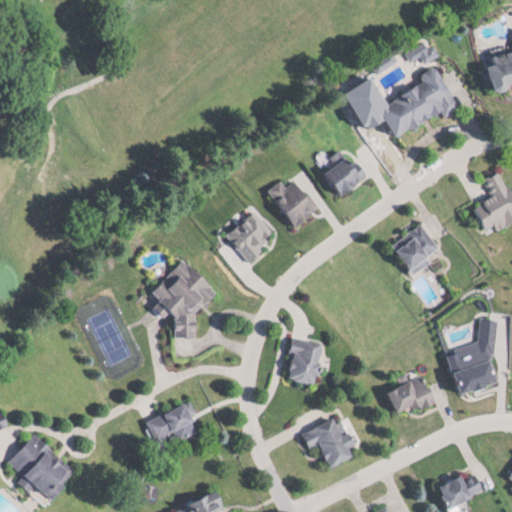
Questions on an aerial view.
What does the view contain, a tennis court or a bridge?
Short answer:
tennis court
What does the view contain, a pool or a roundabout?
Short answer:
pool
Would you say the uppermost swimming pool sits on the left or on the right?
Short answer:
right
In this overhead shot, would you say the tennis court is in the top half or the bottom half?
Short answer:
bottom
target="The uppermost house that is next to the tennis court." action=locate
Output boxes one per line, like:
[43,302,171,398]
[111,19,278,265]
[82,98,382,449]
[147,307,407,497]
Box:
[154,260,218,338]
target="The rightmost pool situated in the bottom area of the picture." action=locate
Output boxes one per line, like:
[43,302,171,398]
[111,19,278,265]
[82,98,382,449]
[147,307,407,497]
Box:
[442,320,474,350]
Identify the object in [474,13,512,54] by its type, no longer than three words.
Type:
swimming pool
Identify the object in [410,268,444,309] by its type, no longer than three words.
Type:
swimming pool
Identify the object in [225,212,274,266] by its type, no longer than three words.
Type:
house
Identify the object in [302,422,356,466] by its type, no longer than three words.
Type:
house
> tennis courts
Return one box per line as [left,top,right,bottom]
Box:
[76,295,144,379]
